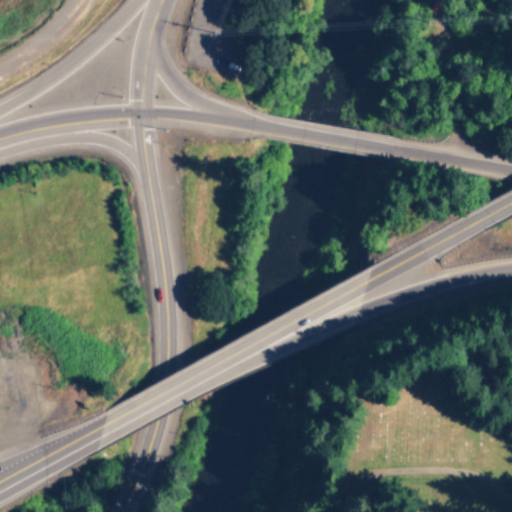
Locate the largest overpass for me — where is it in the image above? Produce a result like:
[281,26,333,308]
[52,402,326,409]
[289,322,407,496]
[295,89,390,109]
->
[98,266,372,453]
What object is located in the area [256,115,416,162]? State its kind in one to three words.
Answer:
bridge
